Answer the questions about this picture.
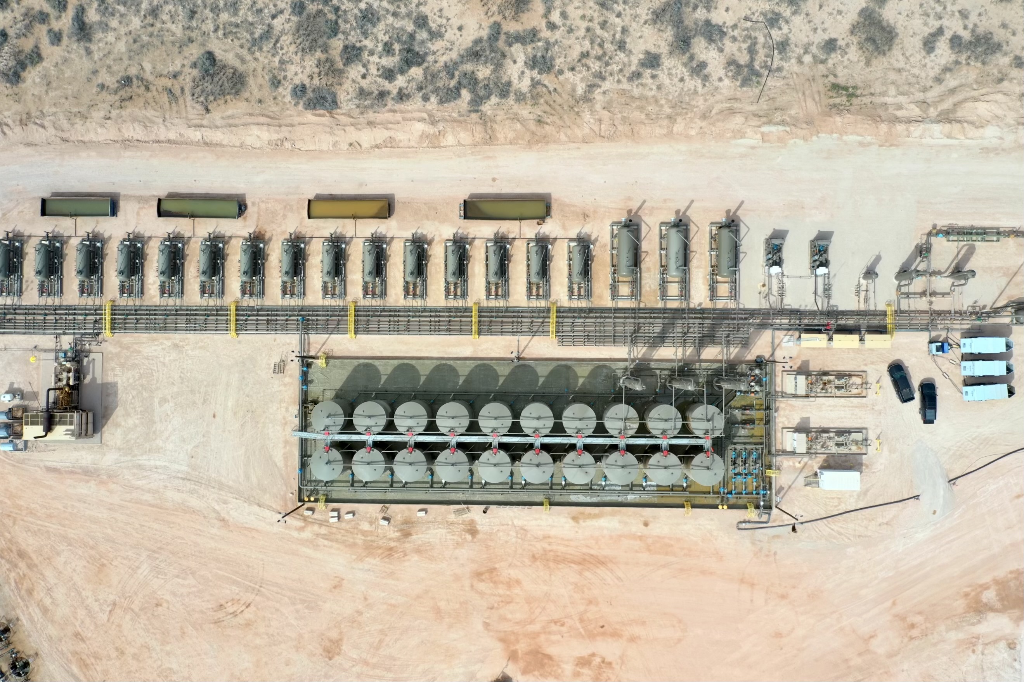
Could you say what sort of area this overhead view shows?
industrial area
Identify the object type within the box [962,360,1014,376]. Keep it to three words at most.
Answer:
trailer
